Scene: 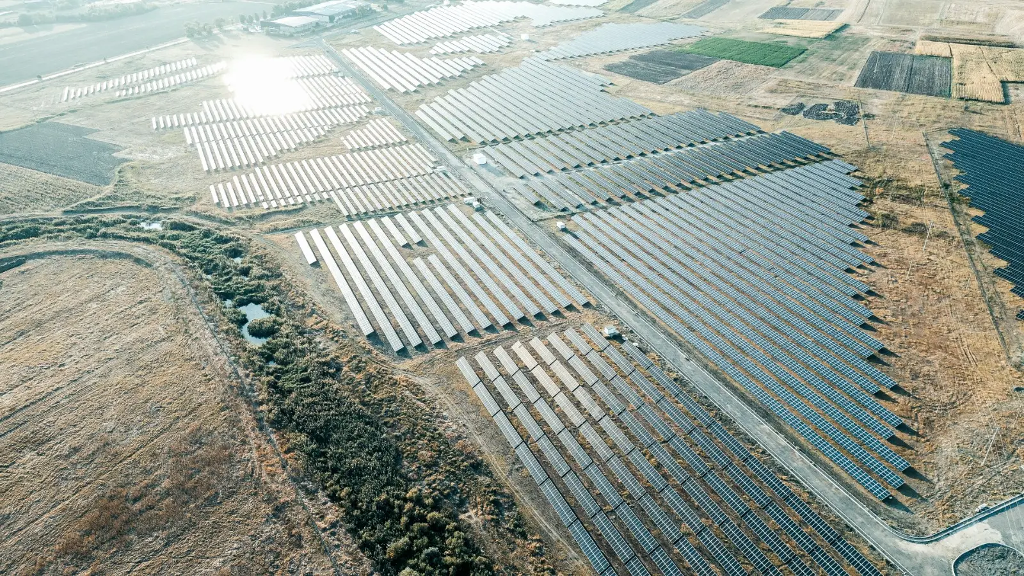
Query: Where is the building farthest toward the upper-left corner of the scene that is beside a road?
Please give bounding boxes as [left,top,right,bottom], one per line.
[258,15,323,35]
